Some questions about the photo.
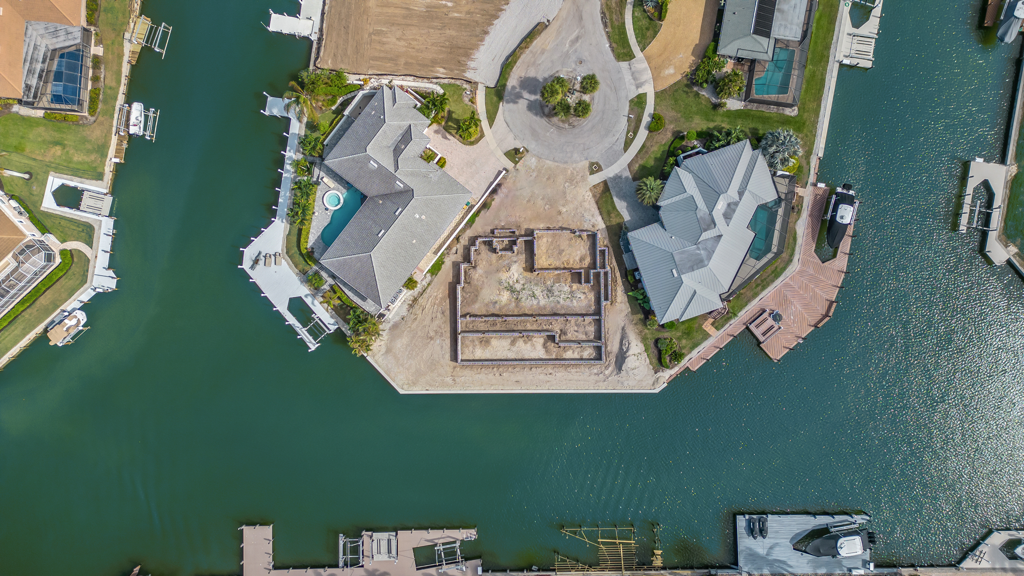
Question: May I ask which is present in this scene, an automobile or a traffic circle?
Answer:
traffic circle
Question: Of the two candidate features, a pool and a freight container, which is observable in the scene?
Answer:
pool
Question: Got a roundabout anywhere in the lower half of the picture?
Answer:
No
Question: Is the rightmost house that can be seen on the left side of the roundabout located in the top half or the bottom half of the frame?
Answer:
top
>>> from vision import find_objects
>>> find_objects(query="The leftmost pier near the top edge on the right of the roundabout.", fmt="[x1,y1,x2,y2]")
[839,0,885,72]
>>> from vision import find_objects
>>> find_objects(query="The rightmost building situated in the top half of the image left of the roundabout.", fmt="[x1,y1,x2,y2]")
[319,85,473,309]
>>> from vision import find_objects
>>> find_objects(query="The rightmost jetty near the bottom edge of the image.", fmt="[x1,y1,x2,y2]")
[951,526,1024,571]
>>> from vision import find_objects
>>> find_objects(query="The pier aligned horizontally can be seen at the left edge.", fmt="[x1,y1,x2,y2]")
[42,177,116,220]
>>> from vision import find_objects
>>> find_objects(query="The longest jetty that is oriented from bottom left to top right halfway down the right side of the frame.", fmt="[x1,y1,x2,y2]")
[677,187,859,376]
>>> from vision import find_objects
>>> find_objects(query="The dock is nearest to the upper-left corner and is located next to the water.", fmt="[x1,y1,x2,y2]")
[128,17,151,68]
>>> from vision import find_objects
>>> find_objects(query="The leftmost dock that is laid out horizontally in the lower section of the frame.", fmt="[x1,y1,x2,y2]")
[239,521,483,576]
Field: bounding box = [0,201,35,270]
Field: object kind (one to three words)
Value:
house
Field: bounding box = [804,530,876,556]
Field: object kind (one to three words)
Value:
boat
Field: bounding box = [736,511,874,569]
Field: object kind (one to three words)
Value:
pier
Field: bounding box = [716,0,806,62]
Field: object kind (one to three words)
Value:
house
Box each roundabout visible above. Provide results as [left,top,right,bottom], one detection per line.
[503,37,630,164]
